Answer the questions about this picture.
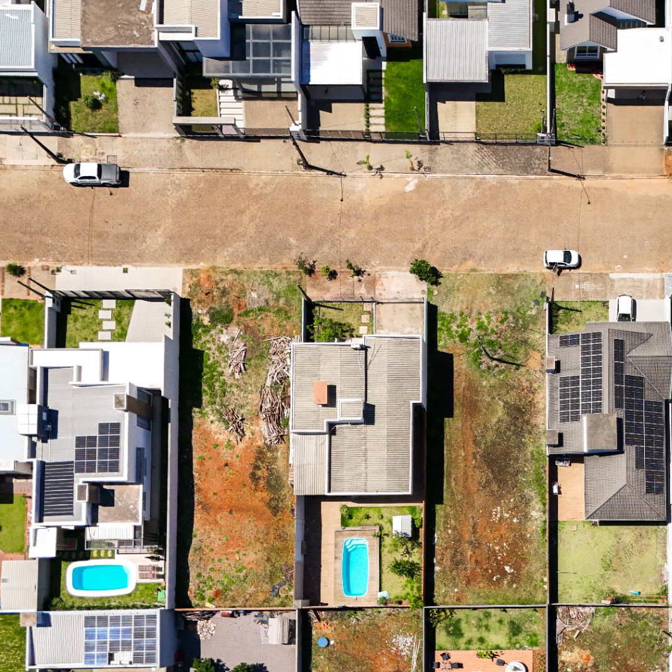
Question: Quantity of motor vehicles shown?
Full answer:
In total, there are 3 motor vehicles in the scene.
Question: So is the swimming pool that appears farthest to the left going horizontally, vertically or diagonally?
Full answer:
I'd say the swimming pool that appears farthest to the left is aligned horizontally in the picture.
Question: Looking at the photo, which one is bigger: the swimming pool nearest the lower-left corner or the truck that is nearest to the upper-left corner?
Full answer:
Of the two, the swimming pool is larger and the truck is the smaller one.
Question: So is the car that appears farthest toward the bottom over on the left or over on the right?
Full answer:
It is on the right.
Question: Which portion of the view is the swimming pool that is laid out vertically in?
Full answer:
The swimming pool that is laid out vertically appears toward the bottom of the photo.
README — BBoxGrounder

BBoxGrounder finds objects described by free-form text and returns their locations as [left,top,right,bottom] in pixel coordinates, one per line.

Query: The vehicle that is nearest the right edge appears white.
[615,289,635,322]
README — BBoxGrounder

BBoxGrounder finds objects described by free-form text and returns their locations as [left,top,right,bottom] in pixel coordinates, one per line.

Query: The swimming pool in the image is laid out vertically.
[342,537,368,598]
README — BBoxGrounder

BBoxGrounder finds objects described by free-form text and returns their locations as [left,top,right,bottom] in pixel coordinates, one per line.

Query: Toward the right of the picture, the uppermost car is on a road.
[543,249,579,277]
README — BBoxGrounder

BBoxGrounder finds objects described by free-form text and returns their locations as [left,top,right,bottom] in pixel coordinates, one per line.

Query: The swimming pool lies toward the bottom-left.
[64,559,137,597]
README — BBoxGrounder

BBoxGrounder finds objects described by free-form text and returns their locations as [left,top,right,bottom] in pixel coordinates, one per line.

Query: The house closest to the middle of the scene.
[291,335,427,497]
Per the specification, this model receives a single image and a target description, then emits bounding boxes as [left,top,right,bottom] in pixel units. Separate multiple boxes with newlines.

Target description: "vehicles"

[543,249,579,277]
[615,289,635,322]
[62,159,118,185]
